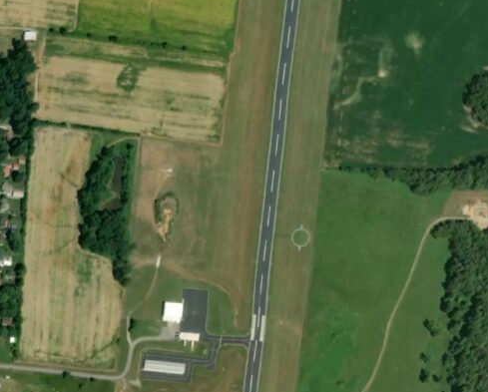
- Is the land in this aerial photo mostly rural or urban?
rural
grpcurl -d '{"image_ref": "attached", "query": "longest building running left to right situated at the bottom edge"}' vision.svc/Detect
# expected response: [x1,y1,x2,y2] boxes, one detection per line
[143,360,185,374]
